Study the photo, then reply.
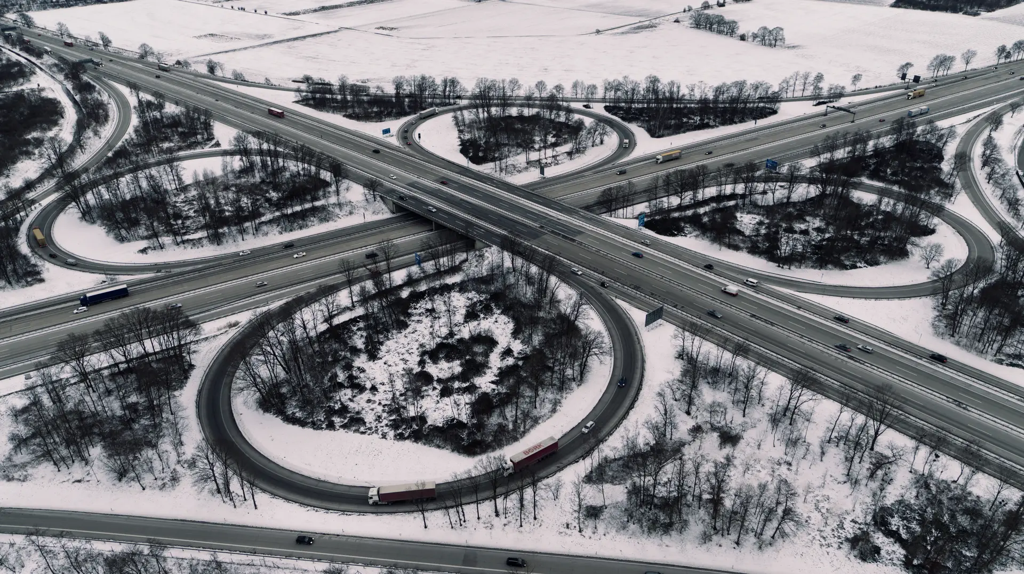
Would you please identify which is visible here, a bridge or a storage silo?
bridge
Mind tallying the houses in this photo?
0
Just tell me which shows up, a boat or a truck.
truck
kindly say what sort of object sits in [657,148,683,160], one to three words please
vehicle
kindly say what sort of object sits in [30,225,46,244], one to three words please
vehicle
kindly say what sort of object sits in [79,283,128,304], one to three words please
truck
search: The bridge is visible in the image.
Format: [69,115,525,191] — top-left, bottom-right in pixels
[387,172,593,252]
